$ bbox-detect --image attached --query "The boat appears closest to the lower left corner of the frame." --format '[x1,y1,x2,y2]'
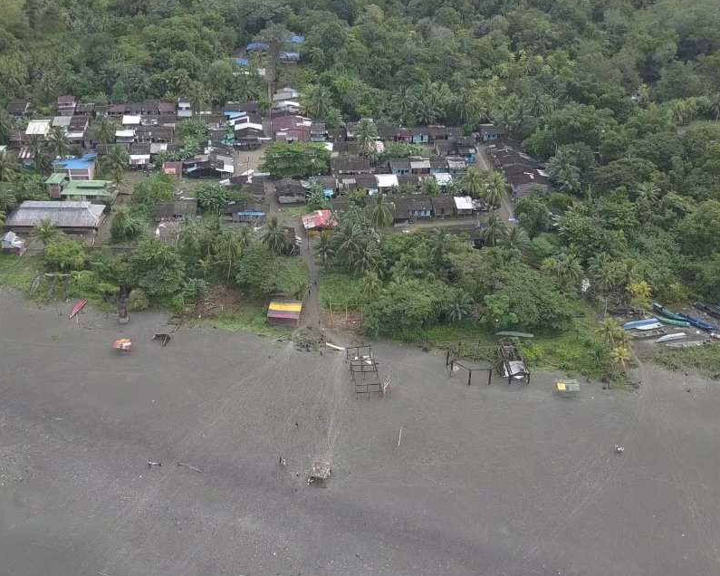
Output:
[70,299,88,319]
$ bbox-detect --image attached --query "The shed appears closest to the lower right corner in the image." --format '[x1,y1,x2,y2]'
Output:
[498,341,530,386]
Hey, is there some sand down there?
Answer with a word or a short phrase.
Yes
